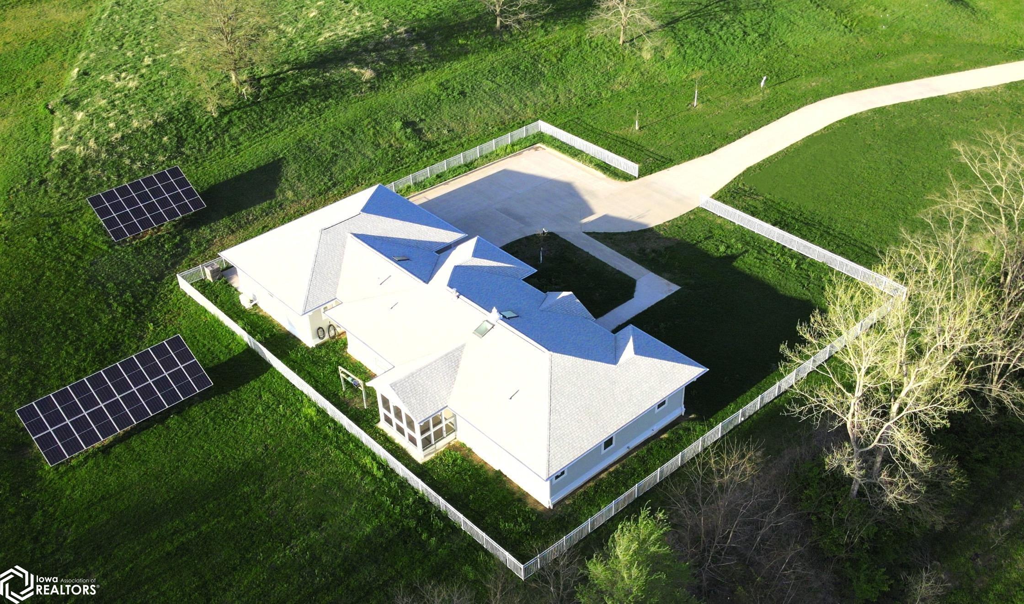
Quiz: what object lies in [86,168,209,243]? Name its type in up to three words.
solar array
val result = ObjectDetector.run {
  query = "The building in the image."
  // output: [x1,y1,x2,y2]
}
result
[218,183,710,514]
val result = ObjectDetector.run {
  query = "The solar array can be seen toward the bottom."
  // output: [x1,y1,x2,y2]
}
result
[17,334,212,466]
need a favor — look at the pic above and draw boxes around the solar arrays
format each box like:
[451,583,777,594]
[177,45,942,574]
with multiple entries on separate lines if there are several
[86,168,209,243]
[17,334,212,466]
